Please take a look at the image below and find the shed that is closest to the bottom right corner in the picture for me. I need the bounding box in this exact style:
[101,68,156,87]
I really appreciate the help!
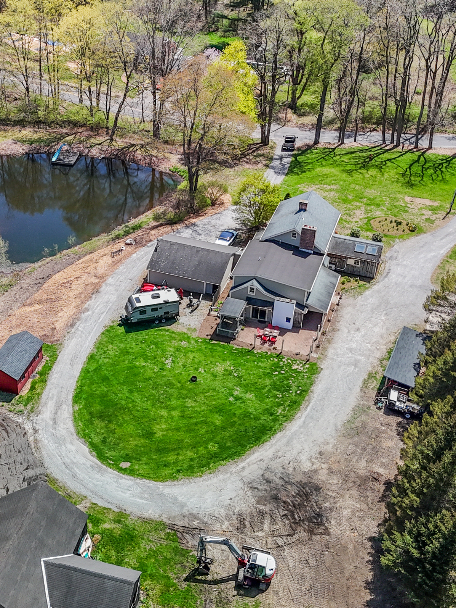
[382,325,426,404]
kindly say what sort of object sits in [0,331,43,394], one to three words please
shed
